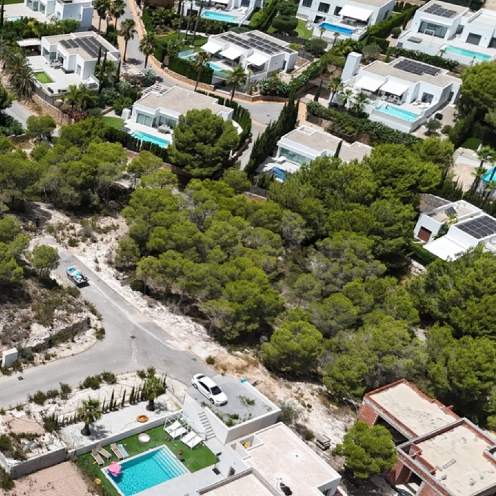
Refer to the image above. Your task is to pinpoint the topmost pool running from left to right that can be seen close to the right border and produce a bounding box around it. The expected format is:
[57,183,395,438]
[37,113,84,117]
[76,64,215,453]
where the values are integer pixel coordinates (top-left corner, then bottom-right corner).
[440,44,494,58]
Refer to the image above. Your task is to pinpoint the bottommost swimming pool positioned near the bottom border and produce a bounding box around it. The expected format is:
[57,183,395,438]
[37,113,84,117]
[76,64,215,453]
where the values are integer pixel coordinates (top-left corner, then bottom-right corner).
[102,443,190,496]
